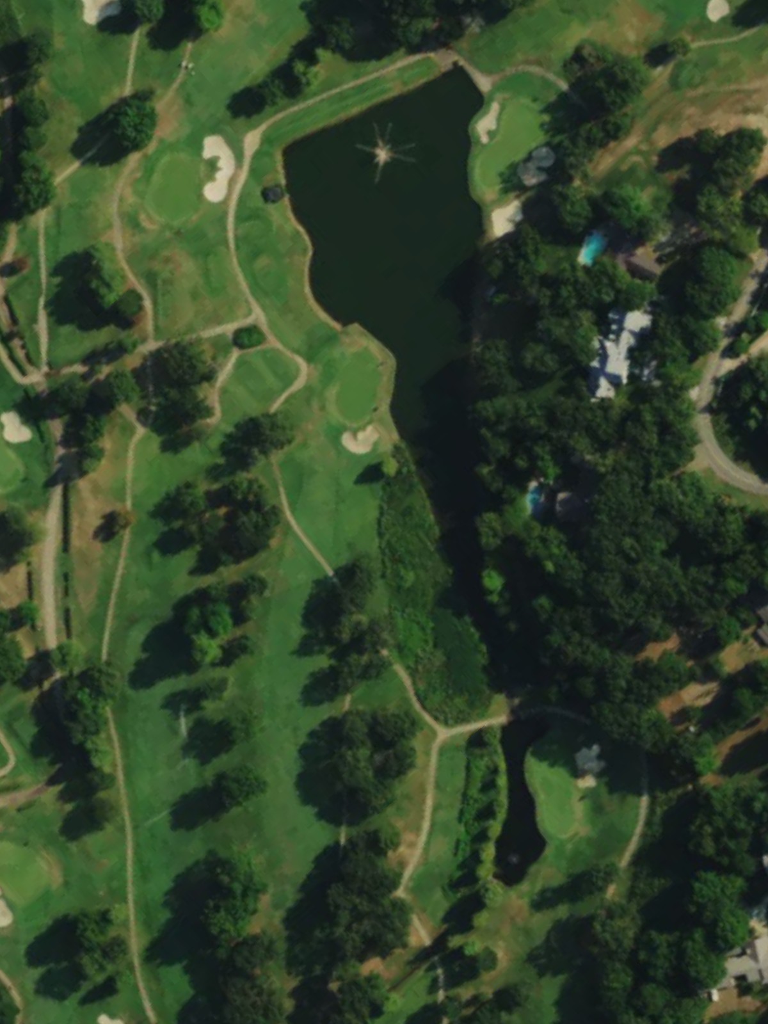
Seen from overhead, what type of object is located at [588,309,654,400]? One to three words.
house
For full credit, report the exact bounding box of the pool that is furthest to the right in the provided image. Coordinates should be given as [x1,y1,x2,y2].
[581,231,607,263]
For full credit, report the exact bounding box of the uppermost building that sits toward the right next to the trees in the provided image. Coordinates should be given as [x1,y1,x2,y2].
[616,245,664,282]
